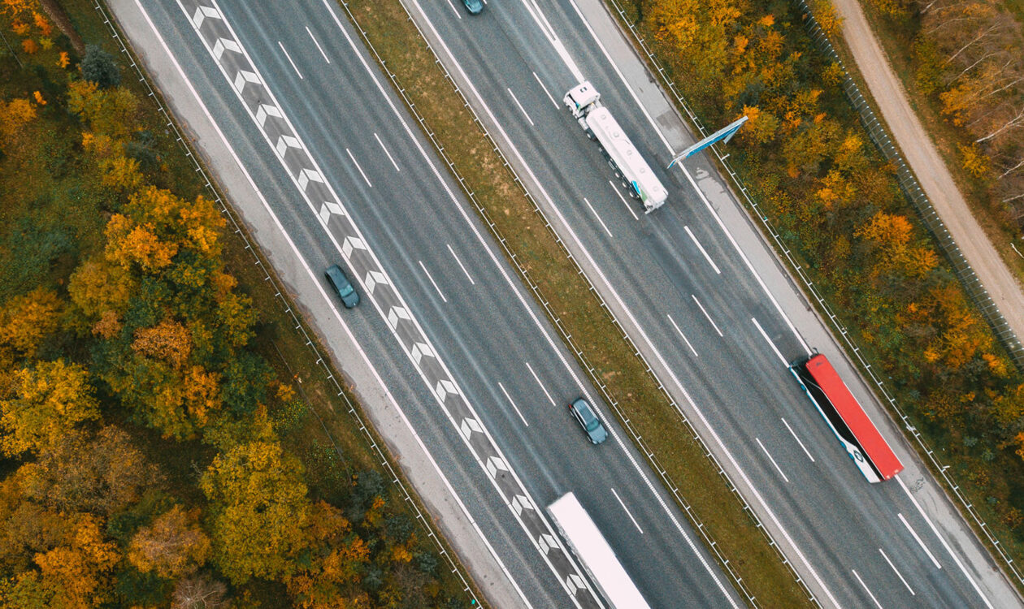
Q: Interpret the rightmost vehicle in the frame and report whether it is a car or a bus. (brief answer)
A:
bus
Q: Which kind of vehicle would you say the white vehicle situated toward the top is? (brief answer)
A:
truck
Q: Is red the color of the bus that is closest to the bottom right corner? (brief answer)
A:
Yes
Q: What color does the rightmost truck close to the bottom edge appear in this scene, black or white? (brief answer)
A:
white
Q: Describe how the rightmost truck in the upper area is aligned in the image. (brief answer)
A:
diagonally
